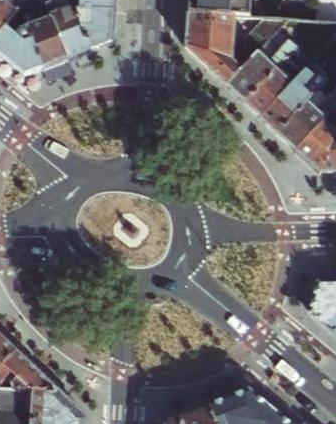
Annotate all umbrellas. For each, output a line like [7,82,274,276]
[0,62,12,77]
[27,78,41,92]
[14,74,24,85]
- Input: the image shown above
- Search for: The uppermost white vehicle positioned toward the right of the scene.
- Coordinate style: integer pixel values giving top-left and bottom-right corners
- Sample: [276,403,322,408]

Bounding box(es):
[228,315,250,335]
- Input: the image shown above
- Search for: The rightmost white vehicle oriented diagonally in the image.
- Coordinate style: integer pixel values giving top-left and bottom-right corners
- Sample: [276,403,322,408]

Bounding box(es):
[276,360,304,386]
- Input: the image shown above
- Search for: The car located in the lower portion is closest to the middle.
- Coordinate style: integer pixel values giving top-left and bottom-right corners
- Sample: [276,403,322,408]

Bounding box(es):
[152,276,176,290]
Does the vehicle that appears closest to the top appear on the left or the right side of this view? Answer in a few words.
left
